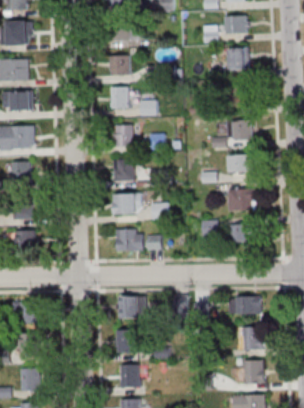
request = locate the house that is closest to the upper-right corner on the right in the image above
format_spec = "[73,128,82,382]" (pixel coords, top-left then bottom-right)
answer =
[224,16,252,34]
